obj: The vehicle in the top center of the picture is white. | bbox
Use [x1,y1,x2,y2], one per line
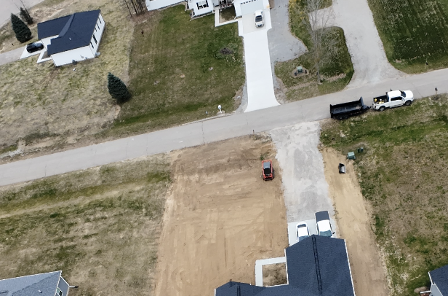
[251,7,265,26]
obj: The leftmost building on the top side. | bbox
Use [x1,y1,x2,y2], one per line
[37,11,104,68]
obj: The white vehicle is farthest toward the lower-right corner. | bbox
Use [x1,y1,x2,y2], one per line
[315,209,335,237]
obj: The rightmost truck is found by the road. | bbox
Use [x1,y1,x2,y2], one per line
[370,89,415,112]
